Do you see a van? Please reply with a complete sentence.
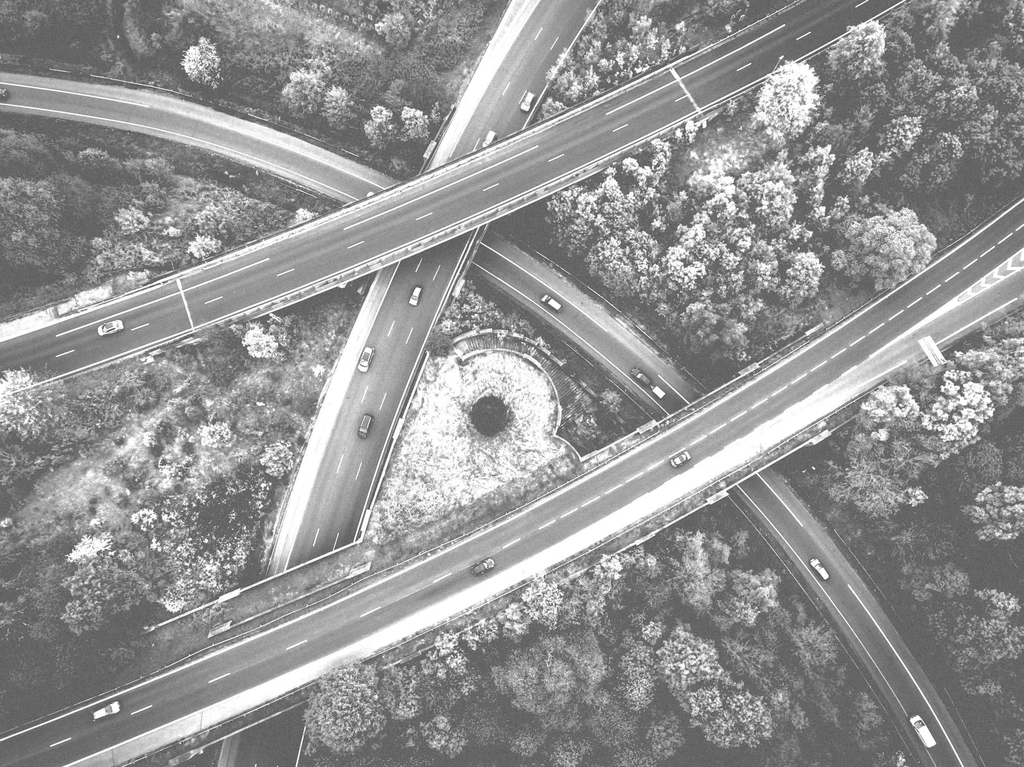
Yes, the picture does show a van.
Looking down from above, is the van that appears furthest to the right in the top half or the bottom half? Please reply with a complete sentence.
It is in the bottom half that the van that appears furthest to the right appears.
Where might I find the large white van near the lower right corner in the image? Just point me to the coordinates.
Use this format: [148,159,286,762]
[907,714,940,752]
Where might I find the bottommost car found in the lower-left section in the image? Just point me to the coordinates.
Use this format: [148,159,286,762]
[90,699,123,724]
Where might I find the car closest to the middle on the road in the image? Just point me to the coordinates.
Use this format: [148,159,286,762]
[540,294,564,313]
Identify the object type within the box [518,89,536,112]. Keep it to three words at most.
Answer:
car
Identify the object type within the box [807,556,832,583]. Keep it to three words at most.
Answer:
car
